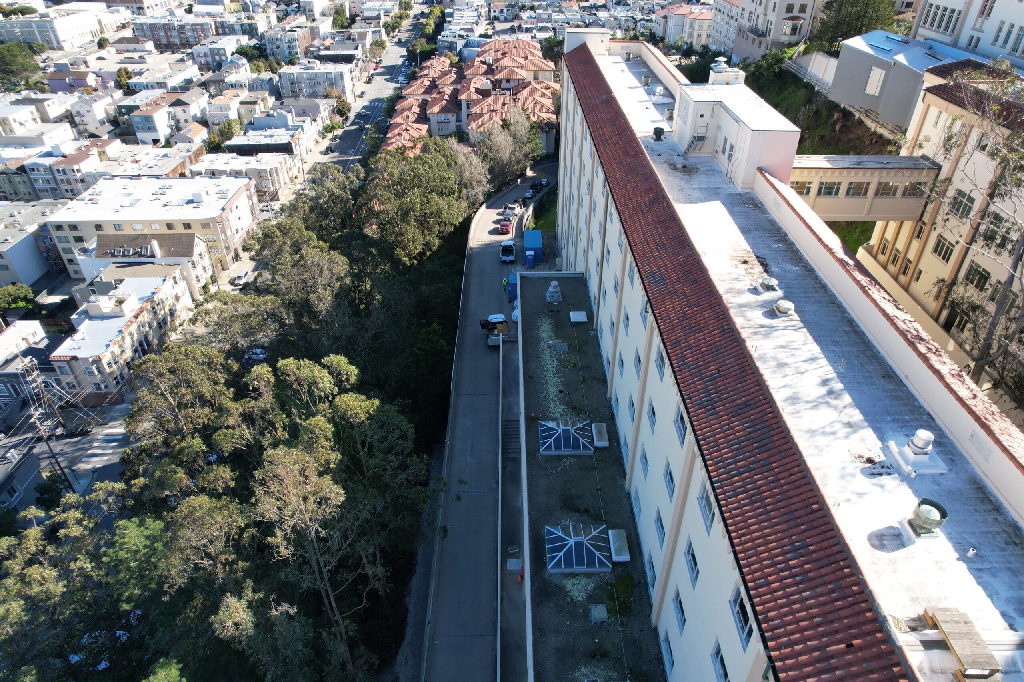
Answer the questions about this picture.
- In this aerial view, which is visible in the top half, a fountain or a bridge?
bridge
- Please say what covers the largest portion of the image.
buildings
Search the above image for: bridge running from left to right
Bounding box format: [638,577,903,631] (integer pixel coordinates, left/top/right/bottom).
[789,154,942,223]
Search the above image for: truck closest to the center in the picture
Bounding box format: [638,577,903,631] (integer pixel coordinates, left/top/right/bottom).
[477,313,508,343]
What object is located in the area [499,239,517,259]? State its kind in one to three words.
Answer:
vehicle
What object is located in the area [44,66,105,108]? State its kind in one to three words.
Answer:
house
